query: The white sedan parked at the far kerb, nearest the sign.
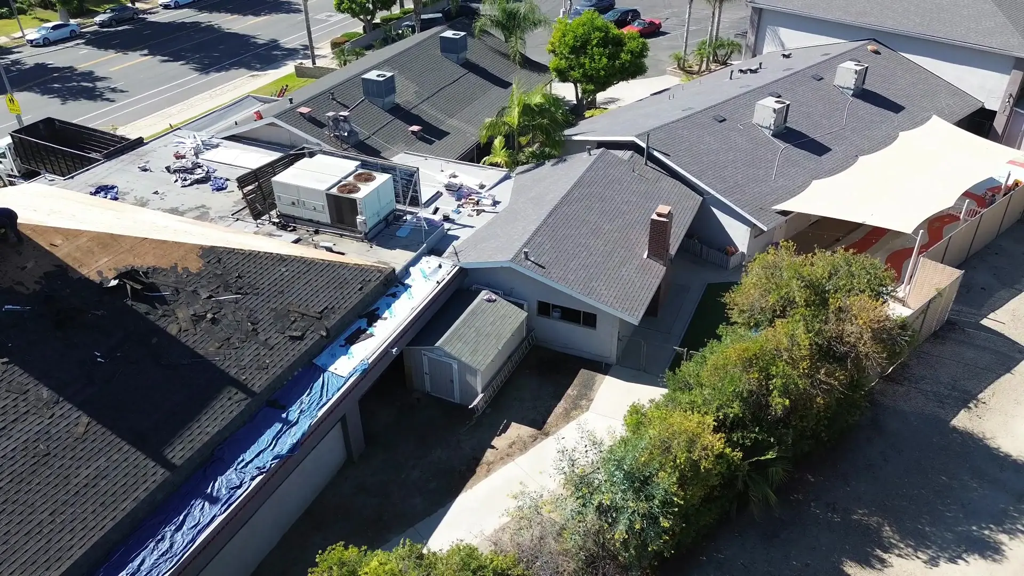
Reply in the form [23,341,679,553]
[21,21,80,47]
